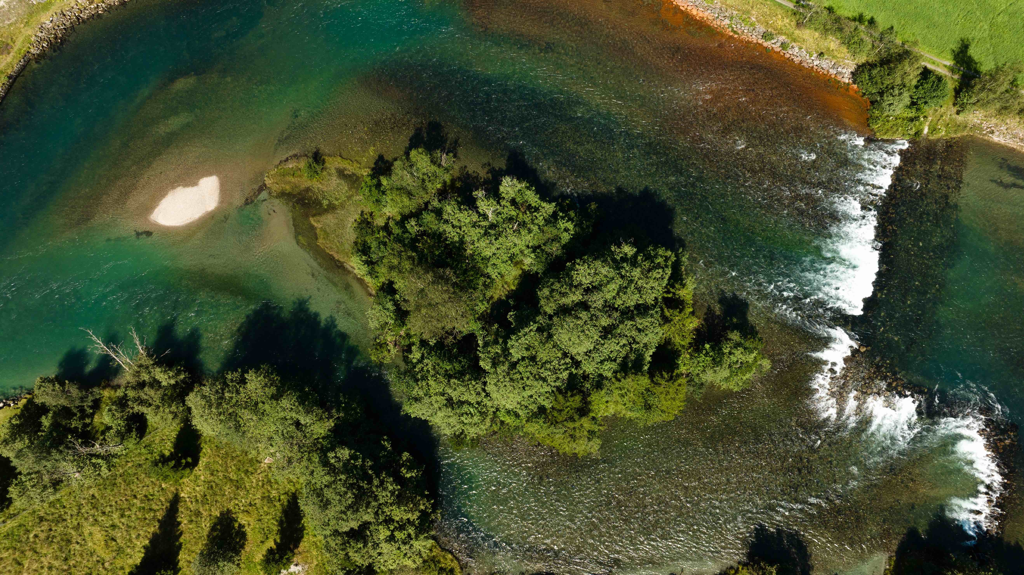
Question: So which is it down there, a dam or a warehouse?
dam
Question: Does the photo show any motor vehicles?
No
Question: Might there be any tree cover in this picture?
Yes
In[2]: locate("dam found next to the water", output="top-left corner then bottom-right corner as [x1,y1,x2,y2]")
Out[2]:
[831,136,1020,553]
